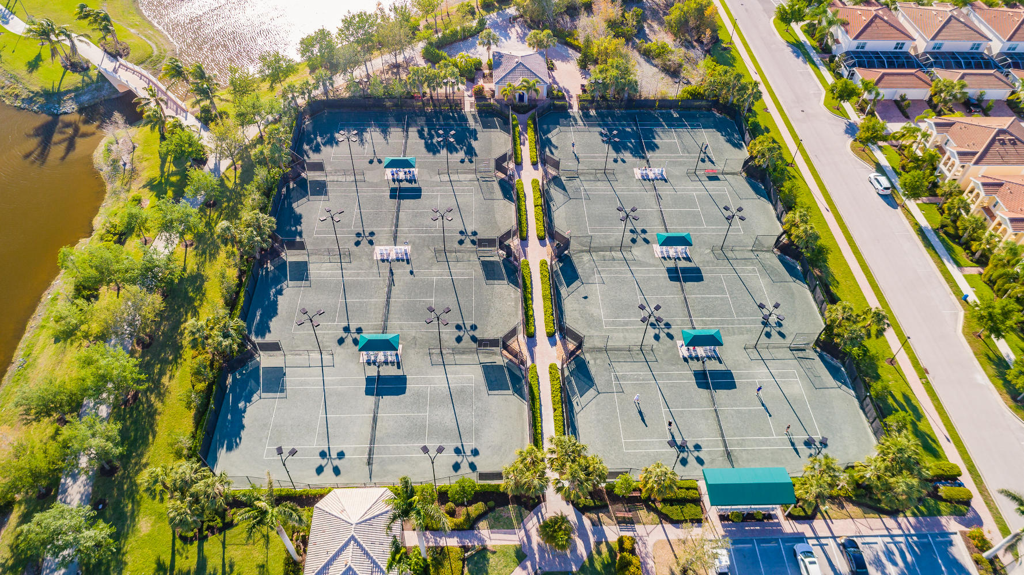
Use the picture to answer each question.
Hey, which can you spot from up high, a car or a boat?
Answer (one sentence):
There is a car in the scene.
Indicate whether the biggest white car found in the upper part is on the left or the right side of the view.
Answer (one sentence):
The biggest white car found in the upper part is on the right side of the image.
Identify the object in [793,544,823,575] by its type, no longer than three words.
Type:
car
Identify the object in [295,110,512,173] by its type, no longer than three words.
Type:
tennis court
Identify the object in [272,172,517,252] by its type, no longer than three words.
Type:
tennis court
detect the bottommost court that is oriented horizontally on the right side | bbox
[562,347,879,481]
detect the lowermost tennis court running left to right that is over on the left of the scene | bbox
[207,352,530,489]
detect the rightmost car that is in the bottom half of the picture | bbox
[841,538,873,575]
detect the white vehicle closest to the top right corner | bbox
[870,174,892,194]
